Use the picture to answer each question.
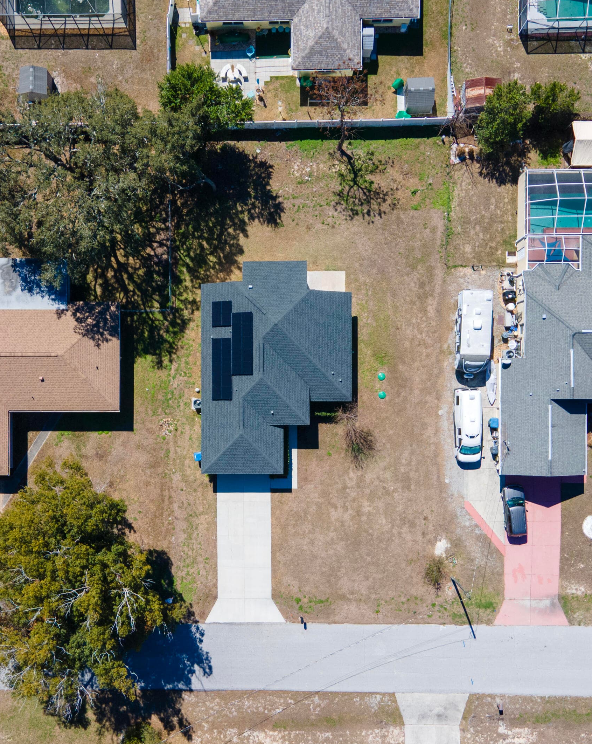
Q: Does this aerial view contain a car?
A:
Yes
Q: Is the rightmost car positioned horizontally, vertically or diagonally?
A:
vertically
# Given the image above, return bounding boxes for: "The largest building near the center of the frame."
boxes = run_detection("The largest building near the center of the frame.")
[200,261,353,475]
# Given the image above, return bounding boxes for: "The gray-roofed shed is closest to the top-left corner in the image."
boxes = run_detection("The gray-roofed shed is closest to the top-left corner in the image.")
[19,64,51,100]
